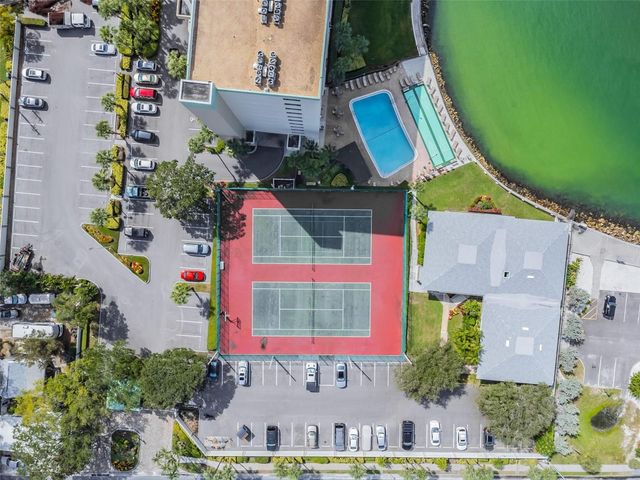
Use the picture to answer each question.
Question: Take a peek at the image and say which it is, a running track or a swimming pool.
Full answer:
The one in the frame is a swimming pool.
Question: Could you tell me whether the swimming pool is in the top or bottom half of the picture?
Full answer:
The swimming pool is in the top half of the image.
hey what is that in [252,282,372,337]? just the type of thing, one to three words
tennis court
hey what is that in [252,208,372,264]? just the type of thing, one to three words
tennis court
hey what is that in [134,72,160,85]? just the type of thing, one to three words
vehicle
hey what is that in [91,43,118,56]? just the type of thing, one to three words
vehicle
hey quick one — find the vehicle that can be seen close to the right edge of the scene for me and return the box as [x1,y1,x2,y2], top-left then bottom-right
[601,295,616,319]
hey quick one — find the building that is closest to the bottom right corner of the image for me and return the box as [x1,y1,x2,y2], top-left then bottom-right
[419,211,572,386]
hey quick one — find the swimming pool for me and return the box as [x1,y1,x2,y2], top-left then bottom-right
[351,91,416,177]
